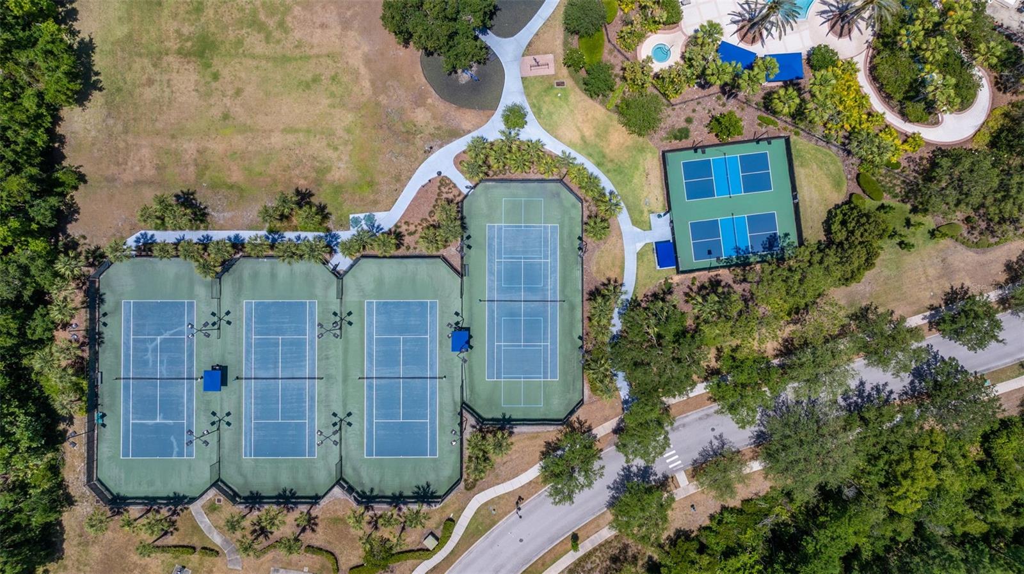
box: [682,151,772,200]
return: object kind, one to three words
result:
sports court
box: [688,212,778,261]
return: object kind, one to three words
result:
sports court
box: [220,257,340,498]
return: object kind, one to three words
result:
tennis court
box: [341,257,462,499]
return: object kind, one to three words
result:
tennis court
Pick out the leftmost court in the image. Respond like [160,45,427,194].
[98,258,220,498]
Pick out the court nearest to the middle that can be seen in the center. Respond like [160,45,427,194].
[462,181,583,421]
